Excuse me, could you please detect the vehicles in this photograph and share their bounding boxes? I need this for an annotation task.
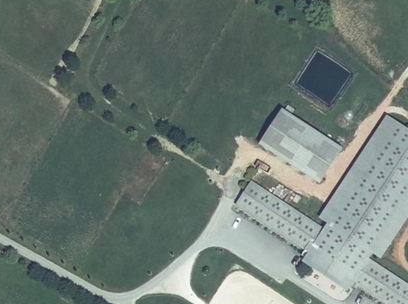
[292,254,300,265]
[232,218,242,230]
[355,294,362,304]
